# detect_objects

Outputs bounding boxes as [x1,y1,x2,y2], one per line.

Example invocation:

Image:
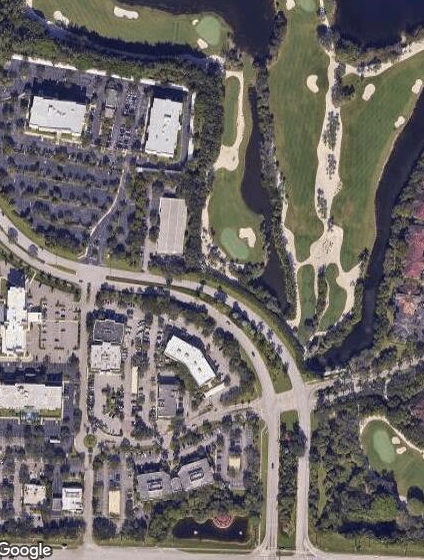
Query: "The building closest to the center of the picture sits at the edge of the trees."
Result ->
[165,336,216,387]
